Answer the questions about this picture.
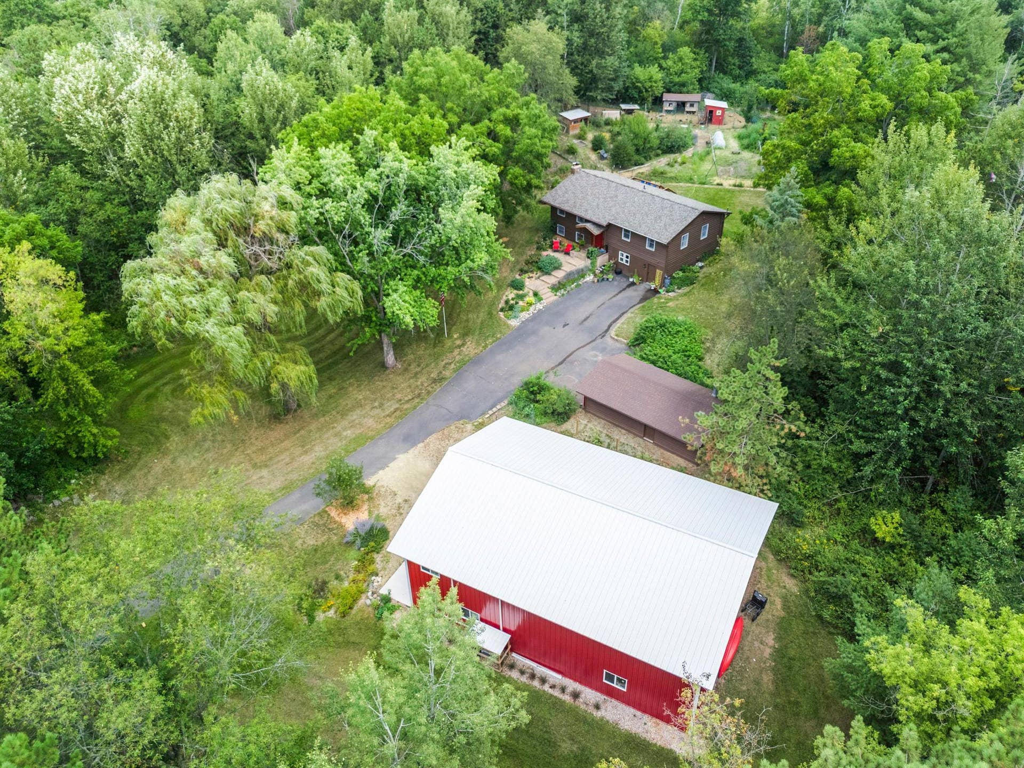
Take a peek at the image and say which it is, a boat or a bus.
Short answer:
boat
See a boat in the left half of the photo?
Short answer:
No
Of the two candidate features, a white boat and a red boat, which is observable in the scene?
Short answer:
red boat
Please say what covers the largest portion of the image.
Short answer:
trees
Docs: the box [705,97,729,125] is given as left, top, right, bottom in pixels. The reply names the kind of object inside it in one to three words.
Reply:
shed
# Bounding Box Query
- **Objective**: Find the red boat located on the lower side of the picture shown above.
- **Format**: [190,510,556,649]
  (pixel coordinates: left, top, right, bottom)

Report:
[722,613,750,681]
